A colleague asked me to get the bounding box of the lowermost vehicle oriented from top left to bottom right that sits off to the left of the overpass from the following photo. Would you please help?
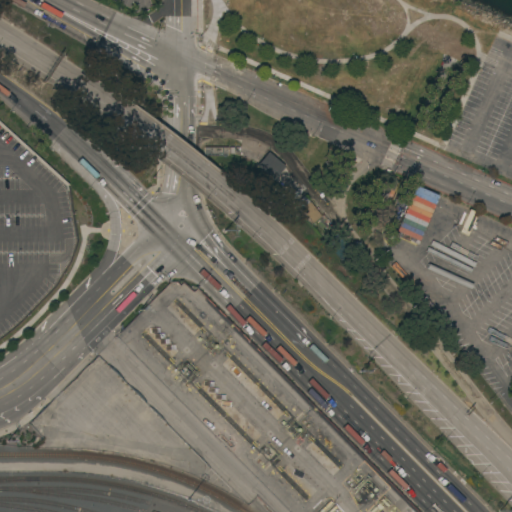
[78,156,107,188]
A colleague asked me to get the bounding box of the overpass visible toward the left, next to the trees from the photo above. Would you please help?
[150,127,225,198]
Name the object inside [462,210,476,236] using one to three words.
vehicle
